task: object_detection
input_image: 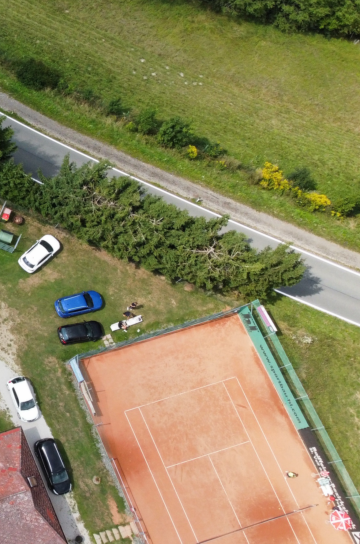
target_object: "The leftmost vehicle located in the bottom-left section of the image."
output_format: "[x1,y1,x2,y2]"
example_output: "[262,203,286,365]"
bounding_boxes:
[6,374,39,424]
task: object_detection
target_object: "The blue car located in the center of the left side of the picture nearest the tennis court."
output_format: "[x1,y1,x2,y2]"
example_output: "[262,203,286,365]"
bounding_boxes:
[53,289,104,317]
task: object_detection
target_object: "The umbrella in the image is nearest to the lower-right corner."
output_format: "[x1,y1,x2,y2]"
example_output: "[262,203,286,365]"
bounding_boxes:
[324,509,353,534]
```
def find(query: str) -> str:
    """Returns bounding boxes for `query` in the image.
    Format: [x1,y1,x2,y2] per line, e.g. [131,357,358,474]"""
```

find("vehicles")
[19,233,59,276]
[56,319,105,347]
[53,289,104,317]
[36,438,72,495]
[6,374,39,424]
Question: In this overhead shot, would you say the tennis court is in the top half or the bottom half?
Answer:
bottom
